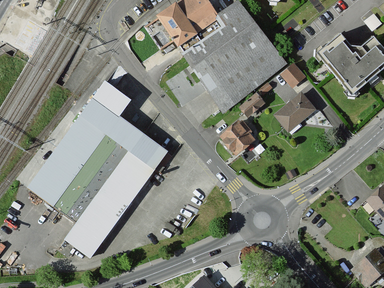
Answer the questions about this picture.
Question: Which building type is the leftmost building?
warehouse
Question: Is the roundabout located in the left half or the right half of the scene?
right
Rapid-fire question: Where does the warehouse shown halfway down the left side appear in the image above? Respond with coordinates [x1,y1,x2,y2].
[27,81,168,258]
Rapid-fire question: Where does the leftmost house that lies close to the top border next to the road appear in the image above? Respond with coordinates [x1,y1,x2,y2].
[157,2,198,47]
